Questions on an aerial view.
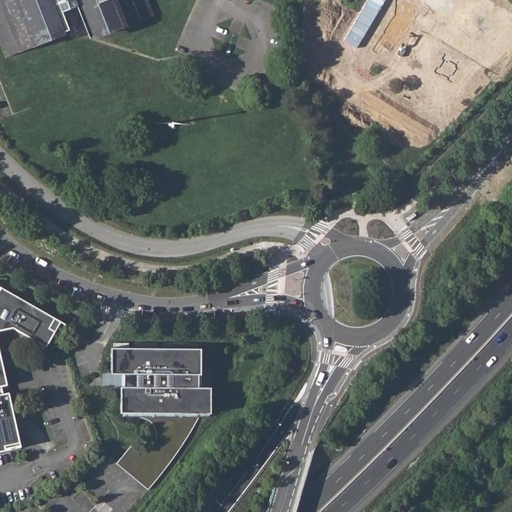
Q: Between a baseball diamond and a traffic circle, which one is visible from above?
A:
traffic circle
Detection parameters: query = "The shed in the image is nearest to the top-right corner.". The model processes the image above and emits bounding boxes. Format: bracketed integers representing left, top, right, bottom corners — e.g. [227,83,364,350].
[343,0,386,48]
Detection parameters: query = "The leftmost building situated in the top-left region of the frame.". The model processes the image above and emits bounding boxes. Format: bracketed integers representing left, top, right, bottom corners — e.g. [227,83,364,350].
[0,0,68,60]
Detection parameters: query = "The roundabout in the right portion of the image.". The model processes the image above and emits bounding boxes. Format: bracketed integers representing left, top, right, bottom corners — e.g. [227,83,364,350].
[304,237,413,348]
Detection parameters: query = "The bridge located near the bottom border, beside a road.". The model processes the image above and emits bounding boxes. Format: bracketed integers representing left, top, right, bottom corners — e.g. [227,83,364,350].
[268,442,316,512]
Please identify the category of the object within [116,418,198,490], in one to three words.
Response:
building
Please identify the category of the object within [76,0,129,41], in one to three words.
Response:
building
